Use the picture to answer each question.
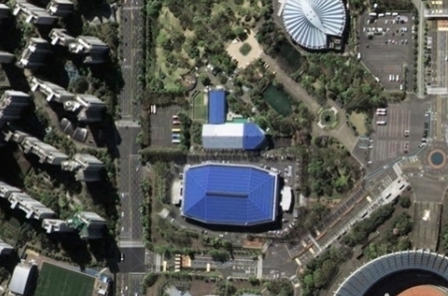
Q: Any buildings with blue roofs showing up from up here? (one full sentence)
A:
Yes, a building with a blue roof is visible in the scene.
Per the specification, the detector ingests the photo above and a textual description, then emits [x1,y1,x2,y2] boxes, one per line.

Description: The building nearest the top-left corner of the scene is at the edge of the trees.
[0,4,20,32]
